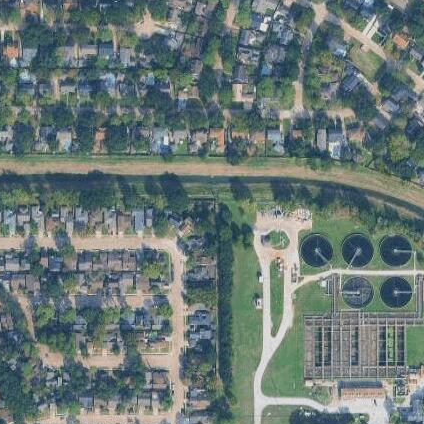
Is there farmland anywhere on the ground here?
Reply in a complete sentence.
No, farmland can't be seen anywhere here.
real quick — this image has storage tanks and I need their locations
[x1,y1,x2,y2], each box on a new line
[342,233,374,266]
[301,233,333,266]
[380,276,413,308]
[341,276,374,308]
[380,233,413,266]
